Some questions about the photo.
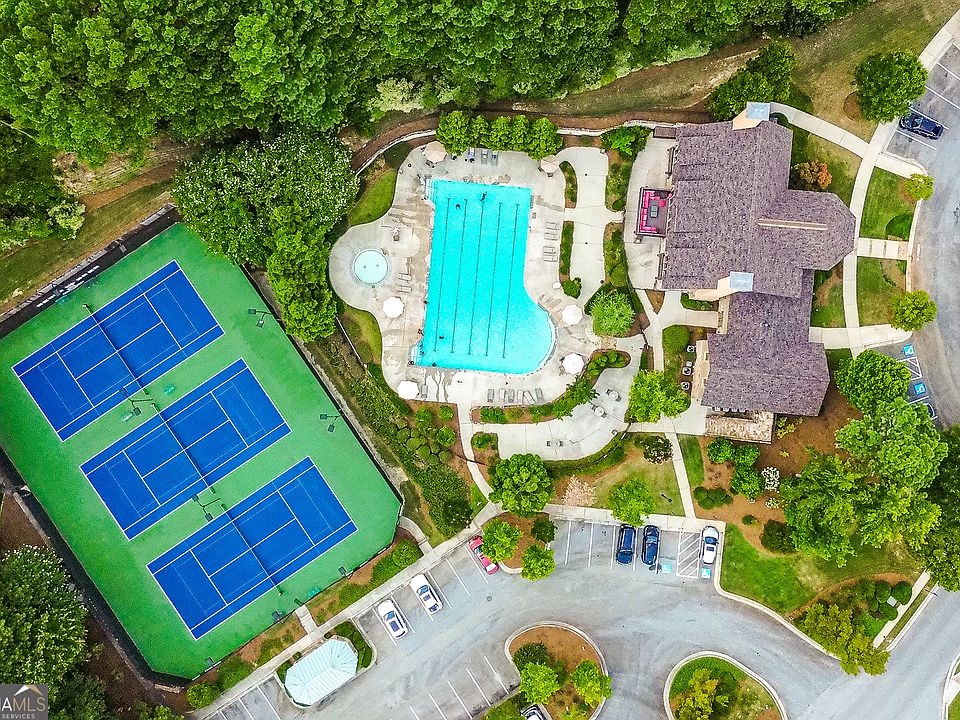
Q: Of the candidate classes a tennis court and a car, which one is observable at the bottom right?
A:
car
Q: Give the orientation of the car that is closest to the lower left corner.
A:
at an angle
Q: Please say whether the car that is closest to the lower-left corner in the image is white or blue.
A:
white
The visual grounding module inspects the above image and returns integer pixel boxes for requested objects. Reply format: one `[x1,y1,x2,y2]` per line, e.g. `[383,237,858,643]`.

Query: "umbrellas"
[424,142,444,163]
[383,296,404,318]
[562,353,583,373]
[397,379,418,400]
[540,157,559,174]
[562,305,582,325]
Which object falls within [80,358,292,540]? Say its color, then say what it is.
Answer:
blue tennis court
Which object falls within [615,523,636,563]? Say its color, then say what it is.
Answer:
blue car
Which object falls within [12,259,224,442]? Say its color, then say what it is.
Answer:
blue tennis court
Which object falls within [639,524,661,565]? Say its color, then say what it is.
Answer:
blue car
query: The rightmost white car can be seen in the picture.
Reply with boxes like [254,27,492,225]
[697,525,720,564]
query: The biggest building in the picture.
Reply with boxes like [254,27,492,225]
[651,102,857,417]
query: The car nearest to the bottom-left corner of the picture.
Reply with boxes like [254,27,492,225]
[375,600,409,640]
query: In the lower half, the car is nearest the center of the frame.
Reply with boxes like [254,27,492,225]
[466,533,502,577]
